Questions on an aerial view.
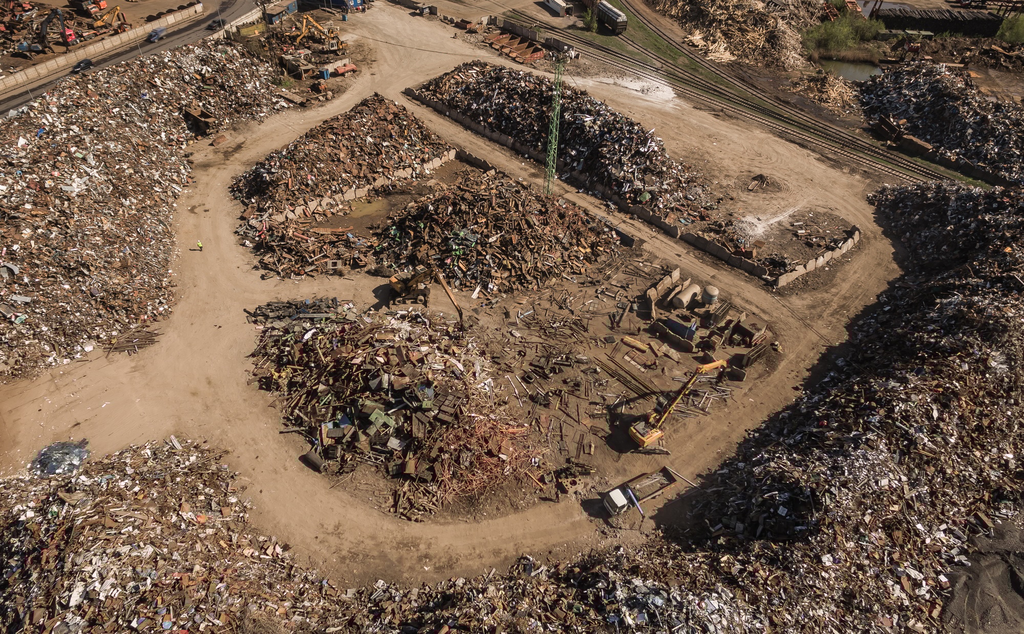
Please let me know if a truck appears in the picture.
Yes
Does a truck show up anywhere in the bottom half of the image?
Yes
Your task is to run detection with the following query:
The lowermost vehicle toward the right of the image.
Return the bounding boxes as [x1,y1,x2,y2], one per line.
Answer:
[603,456,691,519]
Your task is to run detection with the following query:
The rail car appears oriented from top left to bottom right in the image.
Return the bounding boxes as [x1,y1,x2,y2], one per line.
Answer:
[583,0,624,30]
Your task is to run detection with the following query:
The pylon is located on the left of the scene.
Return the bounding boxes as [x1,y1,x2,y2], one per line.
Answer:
[258,0,280,75]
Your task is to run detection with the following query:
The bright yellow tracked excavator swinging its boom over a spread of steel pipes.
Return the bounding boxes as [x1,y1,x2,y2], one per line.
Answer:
[627,361,729,459]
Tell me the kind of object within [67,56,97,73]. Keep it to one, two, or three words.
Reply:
car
